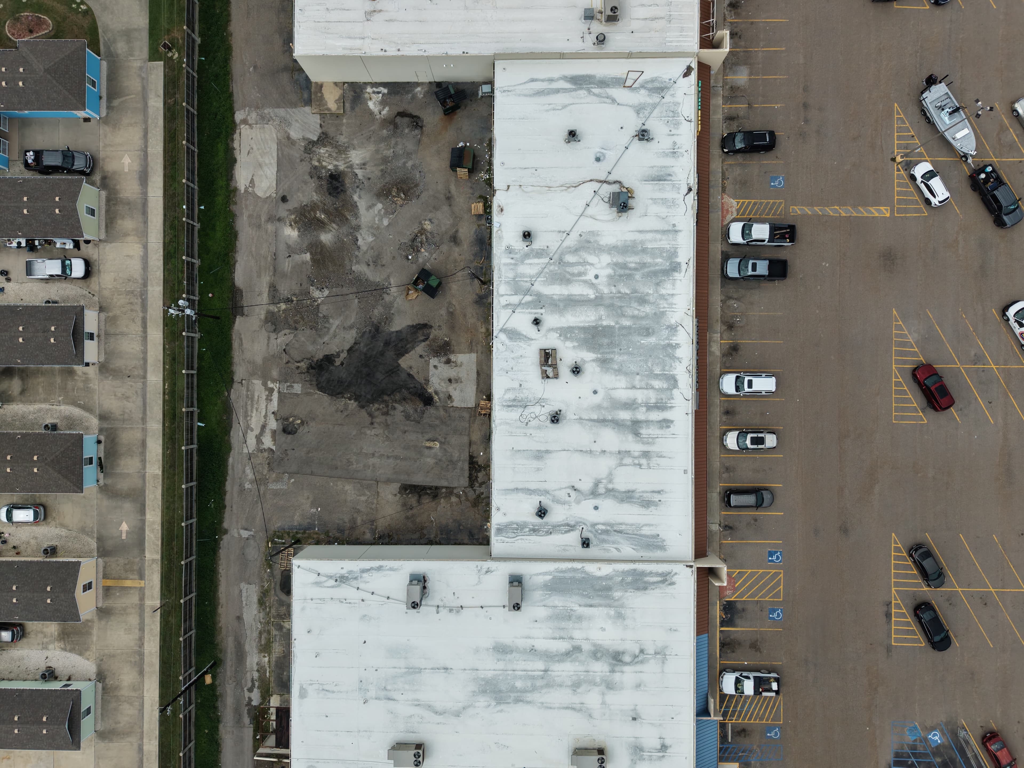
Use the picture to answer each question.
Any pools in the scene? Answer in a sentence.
No, the picture doesn't show any pool.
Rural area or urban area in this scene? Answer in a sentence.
This place is urban.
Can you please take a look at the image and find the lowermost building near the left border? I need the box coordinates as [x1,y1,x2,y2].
[0,680,96,751]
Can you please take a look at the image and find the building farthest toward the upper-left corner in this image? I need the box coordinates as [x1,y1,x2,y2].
[0,38,101,171]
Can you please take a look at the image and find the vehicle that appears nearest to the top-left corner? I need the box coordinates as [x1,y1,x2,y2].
[21,143,94,172]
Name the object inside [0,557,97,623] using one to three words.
house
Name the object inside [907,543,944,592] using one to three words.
car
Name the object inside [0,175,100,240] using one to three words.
house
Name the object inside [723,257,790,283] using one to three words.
truck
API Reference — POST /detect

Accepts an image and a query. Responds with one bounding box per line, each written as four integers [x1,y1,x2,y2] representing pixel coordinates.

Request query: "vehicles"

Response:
[911,602,950,654]
[24,253,93,279]
[727,220,798,248]
[912,365,954,415]
[968,166,1020,231]
[980,731,1017,768]
[0,622,24,641]
[719,372,777,398]
[1011,100,1024,132]
[717,669,780,699]
[1003,303,1024,348]
[21,143,94,172]
[722,427,777,453]
[0,499,46,524]
[723,487,774,512]
[723,257,790,283]
[722,130,777,158]
[907,543,944,592]
[910,165,950,212]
